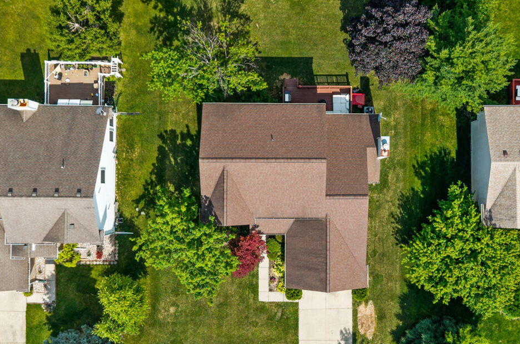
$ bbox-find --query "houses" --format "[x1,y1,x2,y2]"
[471,104,520,233]
[0,93,141,294]
[198,102,389,297]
